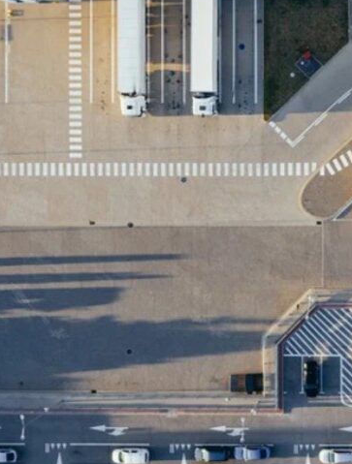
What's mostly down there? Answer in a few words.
paved ground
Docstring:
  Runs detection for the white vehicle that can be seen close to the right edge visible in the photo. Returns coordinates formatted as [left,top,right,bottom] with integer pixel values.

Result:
[320,446,352,464]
